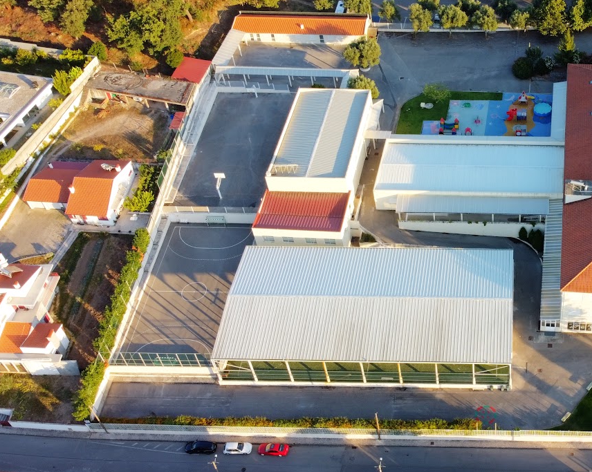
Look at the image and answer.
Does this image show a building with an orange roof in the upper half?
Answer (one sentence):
Yes, you'll find a building with an orange roof in the upper half.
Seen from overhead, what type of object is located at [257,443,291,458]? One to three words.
car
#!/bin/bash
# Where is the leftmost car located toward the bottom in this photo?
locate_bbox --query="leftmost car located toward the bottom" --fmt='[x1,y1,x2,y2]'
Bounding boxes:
[186,441,216,457]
